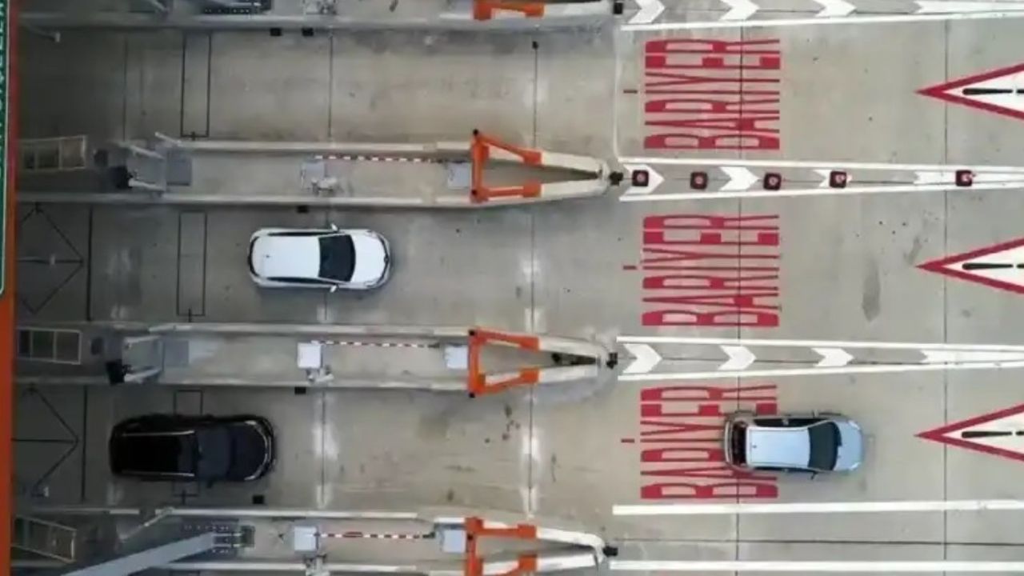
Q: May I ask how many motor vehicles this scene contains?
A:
3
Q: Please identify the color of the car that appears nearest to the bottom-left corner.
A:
black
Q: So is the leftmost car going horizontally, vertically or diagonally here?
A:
horizontally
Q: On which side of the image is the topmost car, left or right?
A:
left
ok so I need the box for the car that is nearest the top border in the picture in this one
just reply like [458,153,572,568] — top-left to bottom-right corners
[248,224,394,293]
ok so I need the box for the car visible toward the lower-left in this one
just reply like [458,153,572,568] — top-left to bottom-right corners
[108,413,275,486]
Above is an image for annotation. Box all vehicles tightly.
[108,413,275,486]
[725,411,866,479]
[248,224,394,293]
